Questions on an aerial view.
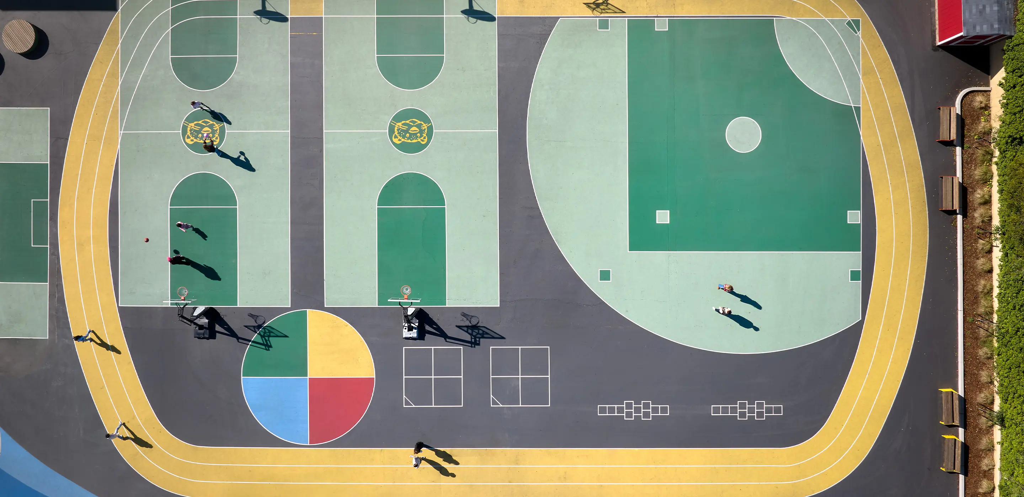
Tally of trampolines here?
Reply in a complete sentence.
The count of trampolines is 0.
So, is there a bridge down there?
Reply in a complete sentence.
No, there's no bridge here.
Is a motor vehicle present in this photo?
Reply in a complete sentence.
No, there is no motor vehicle in the image.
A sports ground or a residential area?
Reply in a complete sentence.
What you see here is a sports ground.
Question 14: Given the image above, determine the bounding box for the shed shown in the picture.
[936,0,1017,45]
